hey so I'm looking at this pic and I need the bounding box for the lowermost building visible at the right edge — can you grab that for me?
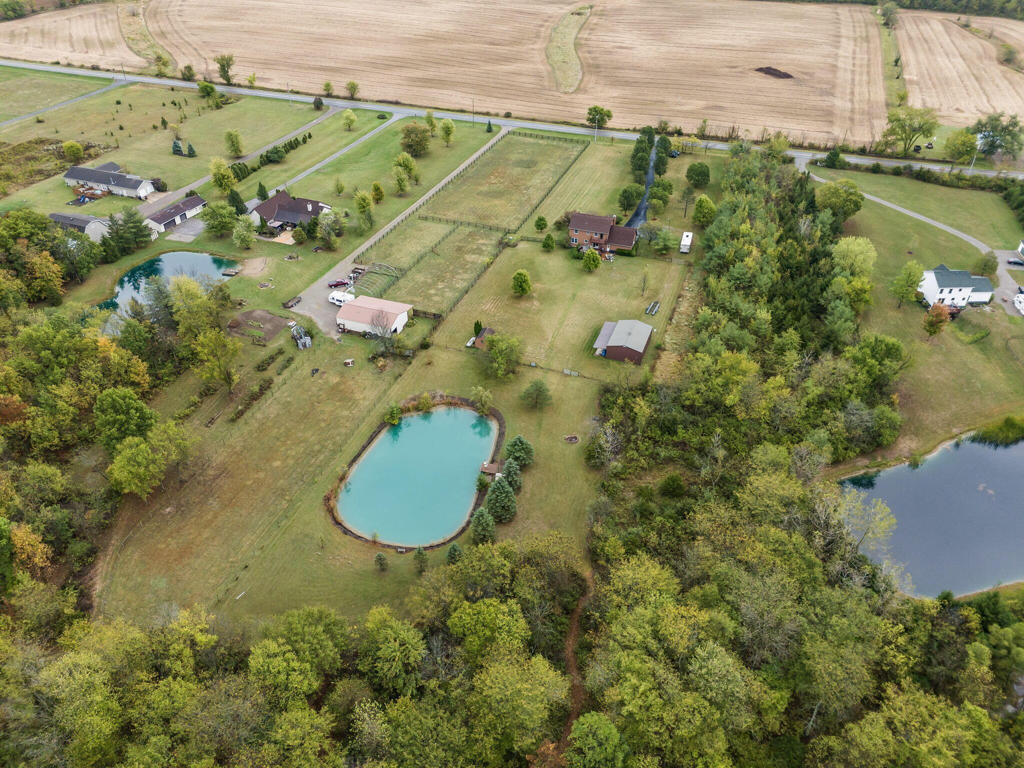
[919,260,994,306]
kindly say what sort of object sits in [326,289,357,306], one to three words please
vehicle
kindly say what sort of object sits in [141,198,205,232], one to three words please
building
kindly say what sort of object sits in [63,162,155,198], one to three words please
house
